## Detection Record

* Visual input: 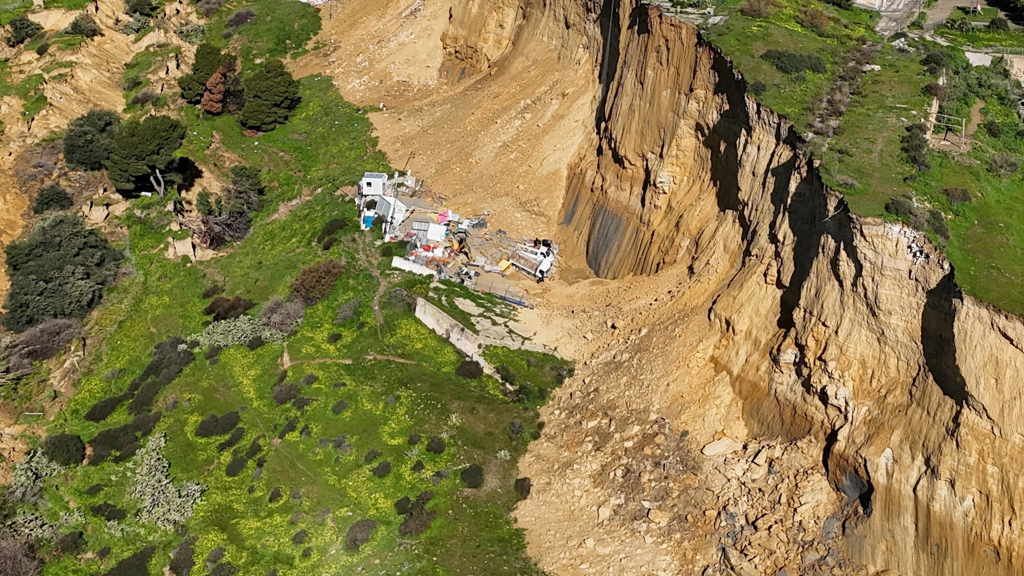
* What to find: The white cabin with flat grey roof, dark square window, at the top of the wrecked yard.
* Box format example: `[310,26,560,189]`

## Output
[365,170,391,197]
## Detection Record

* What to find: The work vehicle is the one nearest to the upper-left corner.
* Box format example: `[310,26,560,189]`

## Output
[451,230,474,261]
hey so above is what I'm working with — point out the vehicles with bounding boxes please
[451,230,474,261]
[517,246,562,268]
[505,252,553,282]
